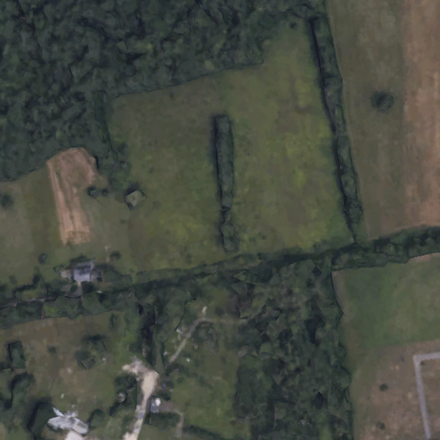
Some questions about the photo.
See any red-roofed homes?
No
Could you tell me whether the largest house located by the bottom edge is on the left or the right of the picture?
left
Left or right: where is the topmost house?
left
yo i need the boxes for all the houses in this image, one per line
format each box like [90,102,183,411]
[57,405,90,434]
[60,263,102,283]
